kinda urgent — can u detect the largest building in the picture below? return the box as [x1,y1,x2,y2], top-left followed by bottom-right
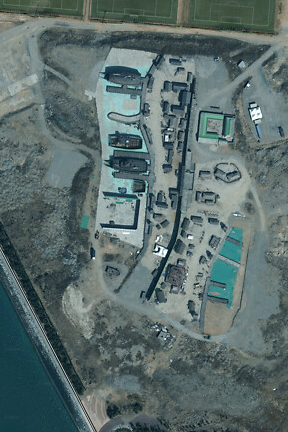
[198,112,234,141]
